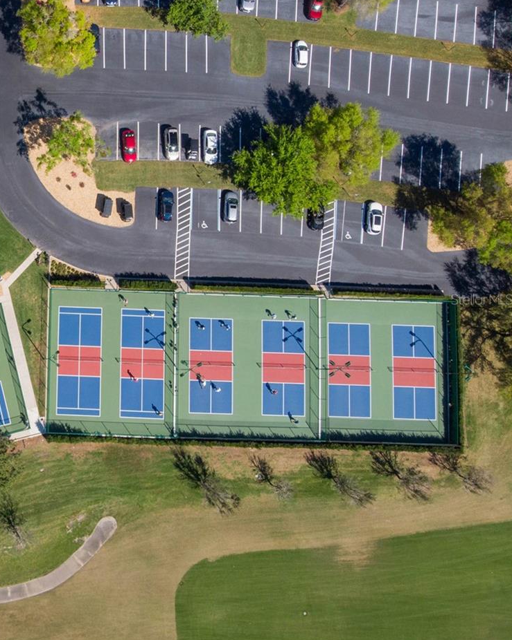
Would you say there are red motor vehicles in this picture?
Yes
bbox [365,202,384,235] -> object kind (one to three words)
car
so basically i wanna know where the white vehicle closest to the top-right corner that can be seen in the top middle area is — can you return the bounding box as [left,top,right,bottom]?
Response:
[293,41,310,69]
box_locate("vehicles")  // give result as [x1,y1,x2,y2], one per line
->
[307,0,324,19]
[307,204,325,236]
[222,190,239,224]
[202,130,219,163]
[87,25,102,57]
[158,190,174,223]
[239,0,254,12]
[293,41,310,69]
[163,126,180,160]
[365,202,384,235]
[186,138,198,158]
[101,196,115,218]
[121,130,137,162]
[120,199,135,221]
[103,0,116,6]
